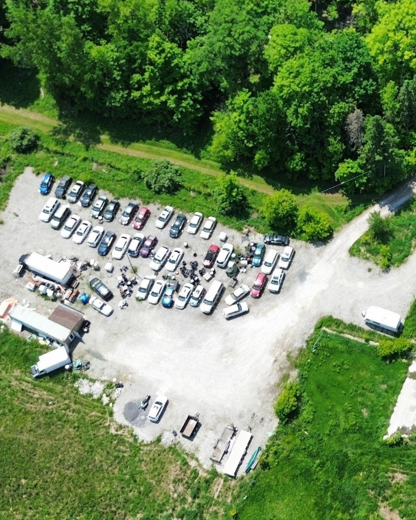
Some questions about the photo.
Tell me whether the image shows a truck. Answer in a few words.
Yes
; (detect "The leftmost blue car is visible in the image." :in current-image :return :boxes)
[39,175,53,195]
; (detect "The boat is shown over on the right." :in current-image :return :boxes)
[247,448,260,473]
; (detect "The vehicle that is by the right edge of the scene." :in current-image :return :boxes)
[360,306,401,333]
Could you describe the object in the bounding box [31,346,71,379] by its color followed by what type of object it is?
white truck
